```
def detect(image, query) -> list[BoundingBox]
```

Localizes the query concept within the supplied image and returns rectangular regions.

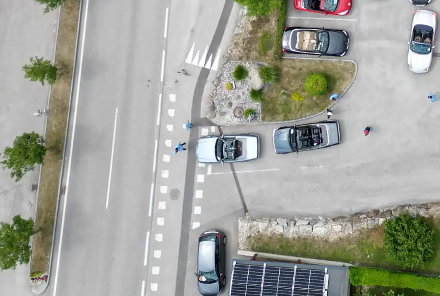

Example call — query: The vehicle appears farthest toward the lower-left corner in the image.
[191,230,229,296]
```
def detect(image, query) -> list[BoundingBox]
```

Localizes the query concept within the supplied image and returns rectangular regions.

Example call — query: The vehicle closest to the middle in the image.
[196,131,260,166]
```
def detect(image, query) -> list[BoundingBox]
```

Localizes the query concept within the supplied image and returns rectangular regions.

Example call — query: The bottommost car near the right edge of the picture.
[405,9,438,73]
